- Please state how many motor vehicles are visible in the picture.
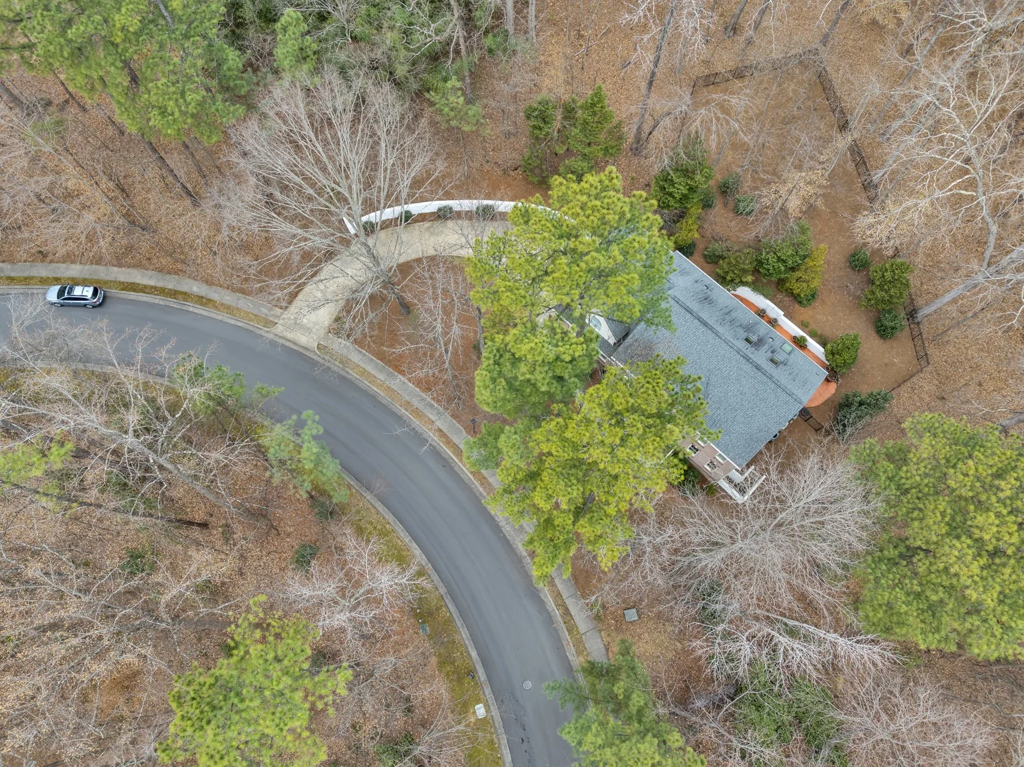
1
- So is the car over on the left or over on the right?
left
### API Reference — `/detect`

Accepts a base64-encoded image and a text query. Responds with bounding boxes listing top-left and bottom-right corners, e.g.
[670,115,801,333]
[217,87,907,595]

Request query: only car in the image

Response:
[44,281,107,311]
